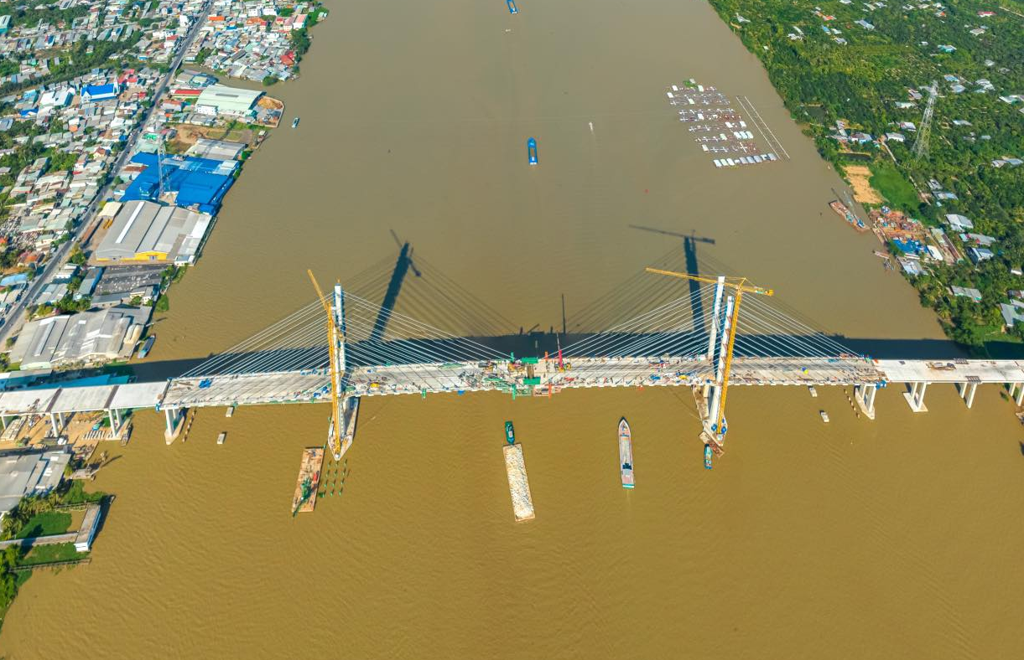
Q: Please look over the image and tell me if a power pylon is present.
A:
Yes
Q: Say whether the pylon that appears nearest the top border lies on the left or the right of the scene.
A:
right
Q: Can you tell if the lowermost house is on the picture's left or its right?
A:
left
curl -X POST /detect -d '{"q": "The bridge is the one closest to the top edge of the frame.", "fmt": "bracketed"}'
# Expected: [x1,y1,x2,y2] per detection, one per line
[0,274,1024,464]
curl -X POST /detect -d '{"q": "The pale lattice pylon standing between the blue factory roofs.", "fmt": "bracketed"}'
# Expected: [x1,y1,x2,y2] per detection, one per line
[151,137,169,197]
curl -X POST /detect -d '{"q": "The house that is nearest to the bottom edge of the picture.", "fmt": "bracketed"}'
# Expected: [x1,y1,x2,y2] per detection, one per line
[75,504,105,550]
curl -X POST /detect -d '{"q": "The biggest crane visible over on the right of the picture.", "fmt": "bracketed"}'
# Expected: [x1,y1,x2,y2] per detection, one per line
[647,265,773,437]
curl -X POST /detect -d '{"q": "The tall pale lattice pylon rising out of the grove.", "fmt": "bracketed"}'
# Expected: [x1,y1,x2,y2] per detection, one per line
[912,80,941,160]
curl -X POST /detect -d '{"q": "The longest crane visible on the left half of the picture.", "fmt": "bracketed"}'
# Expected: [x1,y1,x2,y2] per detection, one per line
[302,266,342,448]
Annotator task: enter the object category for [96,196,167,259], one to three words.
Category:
building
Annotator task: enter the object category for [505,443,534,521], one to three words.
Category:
ship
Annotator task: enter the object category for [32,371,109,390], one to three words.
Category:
shed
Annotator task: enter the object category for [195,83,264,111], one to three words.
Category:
building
